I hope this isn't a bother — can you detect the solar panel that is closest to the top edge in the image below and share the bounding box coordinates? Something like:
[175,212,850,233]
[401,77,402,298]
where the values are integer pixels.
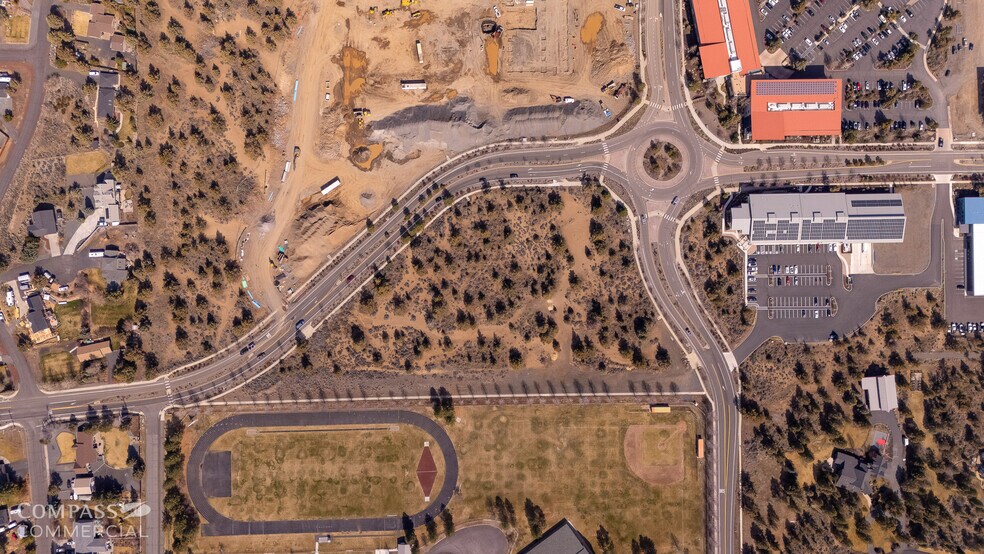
[757,82,834,94]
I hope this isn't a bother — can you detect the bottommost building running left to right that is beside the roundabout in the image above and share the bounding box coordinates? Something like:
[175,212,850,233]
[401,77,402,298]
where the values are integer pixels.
[723,190,906,244]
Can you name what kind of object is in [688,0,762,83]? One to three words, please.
building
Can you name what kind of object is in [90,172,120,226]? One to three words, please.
house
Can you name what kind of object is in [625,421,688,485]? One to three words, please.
baseball field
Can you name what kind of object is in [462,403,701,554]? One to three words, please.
sports field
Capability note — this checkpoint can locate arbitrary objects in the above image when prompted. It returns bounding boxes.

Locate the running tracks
[186,410,458,536]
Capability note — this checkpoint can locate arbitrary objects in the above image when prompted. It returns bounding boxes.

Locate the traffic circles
[601,101,743,243]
